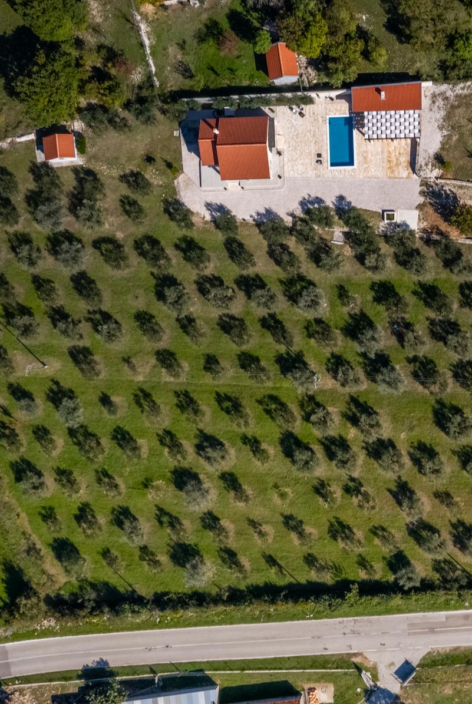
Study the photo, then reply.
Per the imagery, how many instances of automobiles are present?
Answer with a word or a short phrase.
zero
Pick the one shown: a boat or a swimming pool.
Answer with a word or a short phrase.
swimming pool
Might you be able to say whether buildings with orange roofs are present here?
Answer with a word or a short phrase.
Yes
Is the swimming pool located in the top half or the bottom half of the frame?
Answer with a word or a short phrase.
top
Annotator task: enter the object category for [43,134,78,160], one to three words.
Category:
shed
